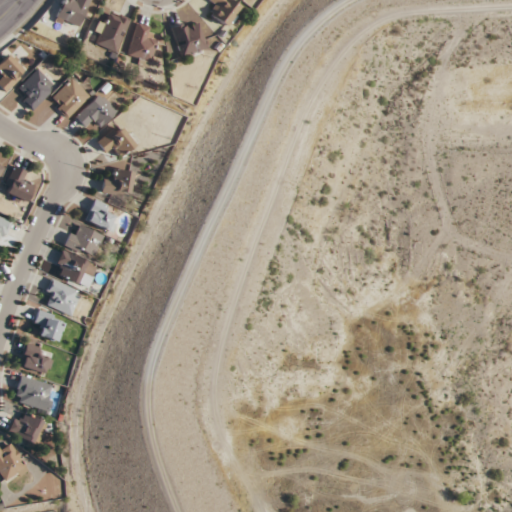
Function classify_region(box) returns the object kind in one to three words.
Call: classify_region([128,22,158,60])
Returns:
house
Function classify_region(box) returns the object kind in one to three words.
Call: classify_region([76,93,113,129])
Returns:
house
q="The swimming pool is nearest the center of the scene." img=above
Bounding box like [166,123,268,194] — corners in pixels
[118,212,131,236]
